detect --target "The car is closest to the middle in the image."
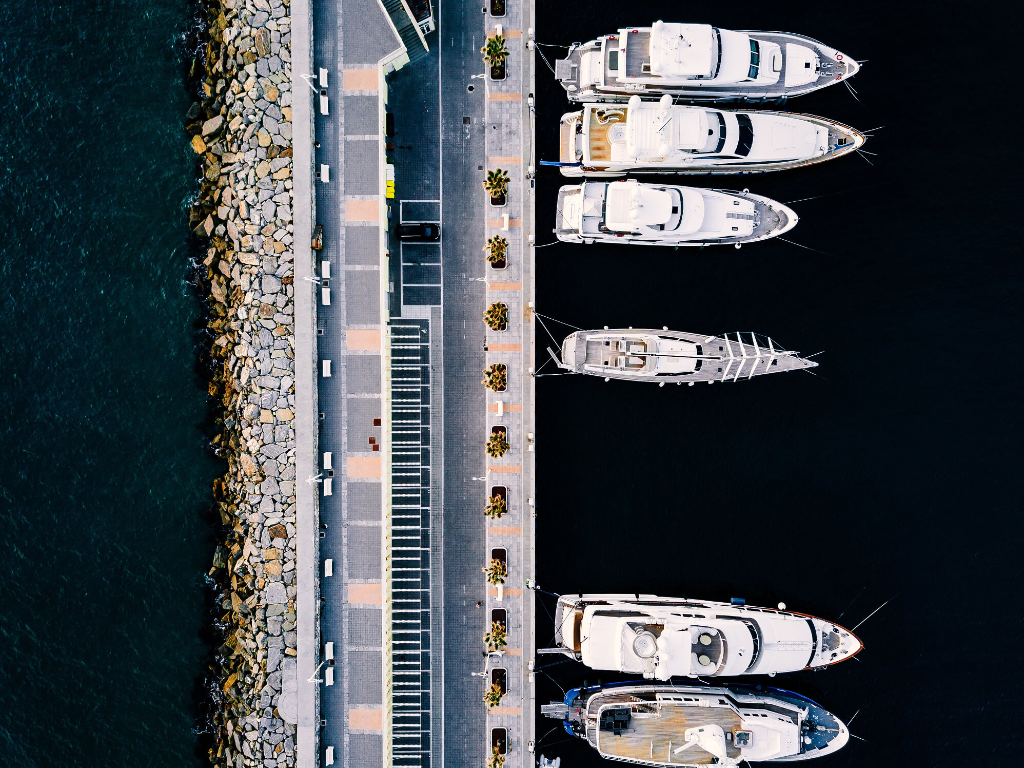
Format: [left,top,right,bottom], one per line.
[398,222,440,242]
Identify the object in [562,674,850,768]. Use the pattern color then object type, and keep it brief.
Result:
white vessel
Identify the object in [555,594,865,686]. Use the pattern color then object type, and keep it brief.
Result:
white boat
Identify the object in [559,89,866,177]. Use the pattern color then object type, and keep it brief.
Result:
white boat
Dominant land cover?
water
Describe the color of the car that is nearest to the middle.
black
